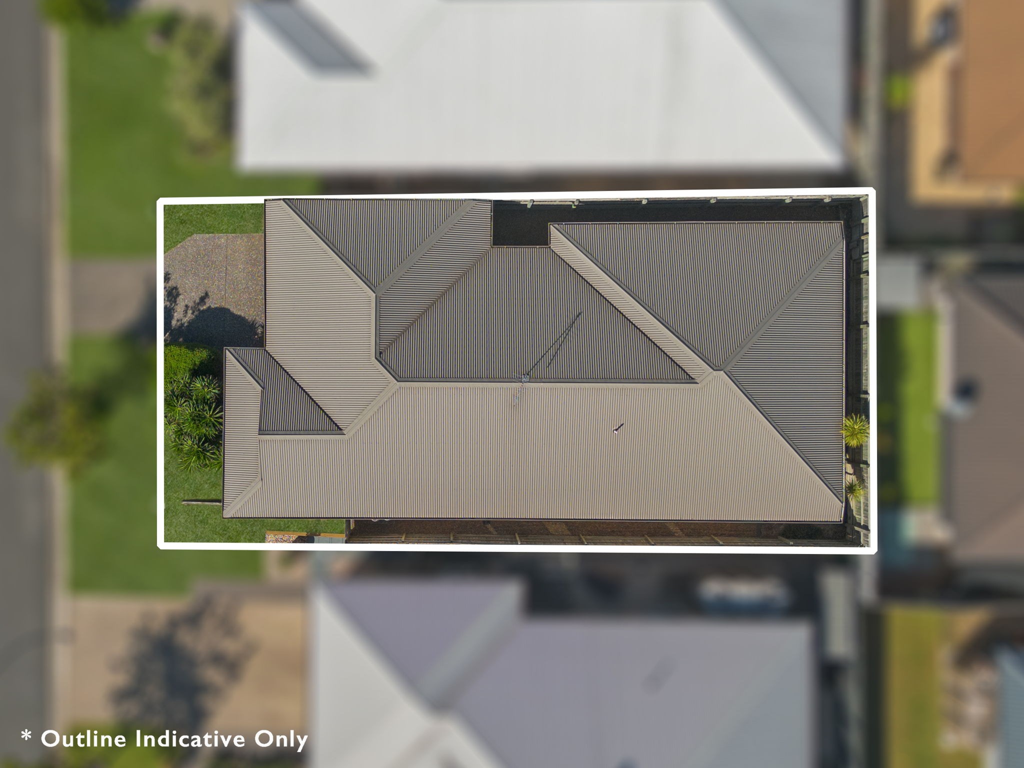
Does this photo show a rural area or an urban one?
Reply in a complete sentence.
The area is urban.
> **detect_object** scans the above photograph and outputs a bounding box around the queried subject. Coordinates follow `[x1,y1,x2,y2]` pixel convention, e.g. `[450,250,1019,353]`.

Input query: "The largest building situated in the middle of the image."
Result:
[223,195,849,522]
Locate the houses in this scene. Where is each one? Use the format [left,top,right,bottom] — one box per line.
[313,575,810,768]
[935,274,1024,561]
[975,642,1024,768]
[952,0,1024,182]
[223,195,849,522]
[240,0,847,179]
